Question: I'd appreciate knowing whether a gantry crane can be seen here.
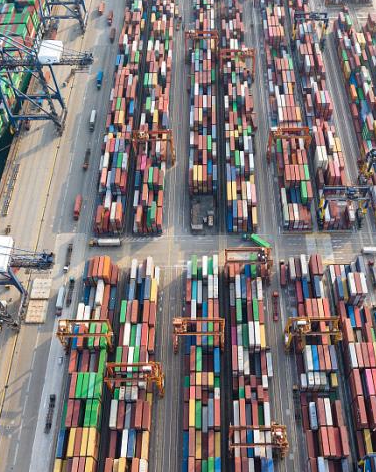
Yes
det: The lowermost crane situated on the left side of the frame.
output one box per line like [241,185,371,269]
[103,360,165,399]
